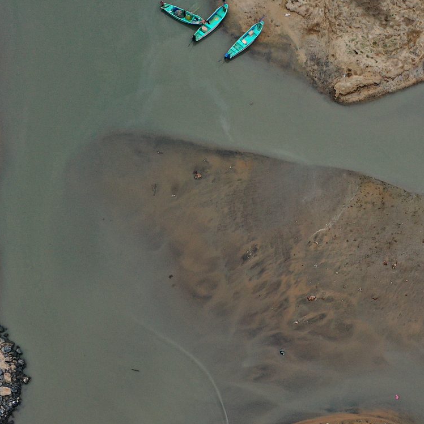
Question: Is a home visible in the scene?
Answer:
No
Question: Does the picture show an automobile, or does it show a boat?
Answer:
boat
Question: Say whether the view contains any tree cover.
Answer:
No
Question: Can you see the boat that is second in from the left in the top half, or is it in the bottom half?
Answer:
top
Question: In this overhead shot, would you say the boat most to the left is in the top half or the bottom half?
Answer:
top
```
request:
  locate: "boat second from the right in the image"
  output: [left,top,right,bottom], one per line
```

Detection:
[190,1,227,45]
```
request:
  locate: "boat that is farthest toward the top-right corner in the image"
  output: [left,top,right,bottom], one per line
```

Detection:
[224,16,264,60]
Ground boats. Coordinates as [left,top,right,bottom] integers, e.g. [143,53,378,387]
[190,1,227,45]
[153,0,204,24]
[224,16,264,60]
